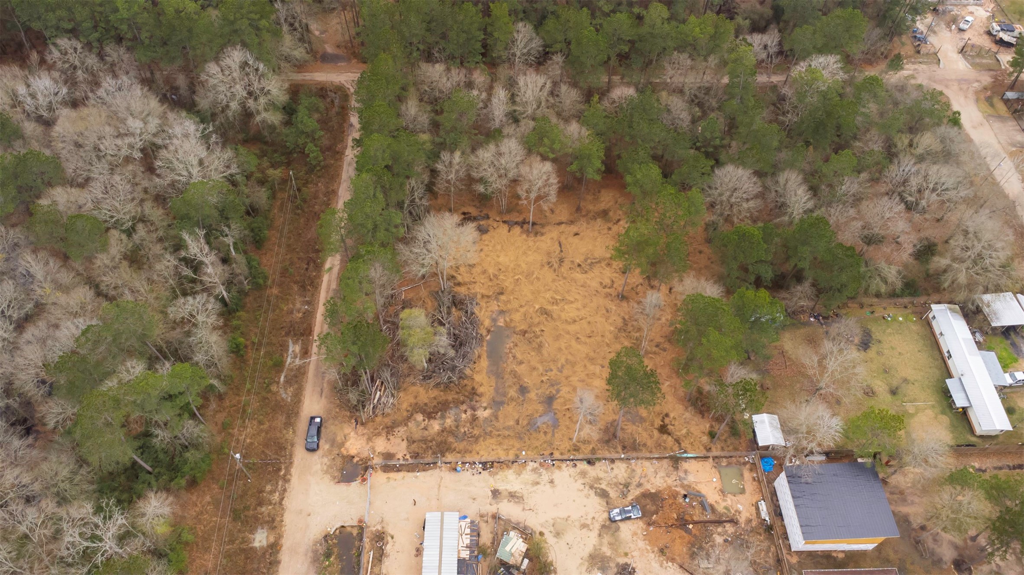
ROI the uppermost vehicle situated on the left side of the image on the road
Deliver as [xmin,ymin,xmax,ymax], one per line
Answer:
[304,416,322,453]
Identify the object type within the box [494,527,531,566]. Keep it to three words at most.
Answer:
shed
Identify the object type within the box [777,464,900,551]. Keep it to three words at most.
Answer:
house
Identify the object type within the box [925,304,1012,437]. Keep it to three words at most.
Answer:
house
